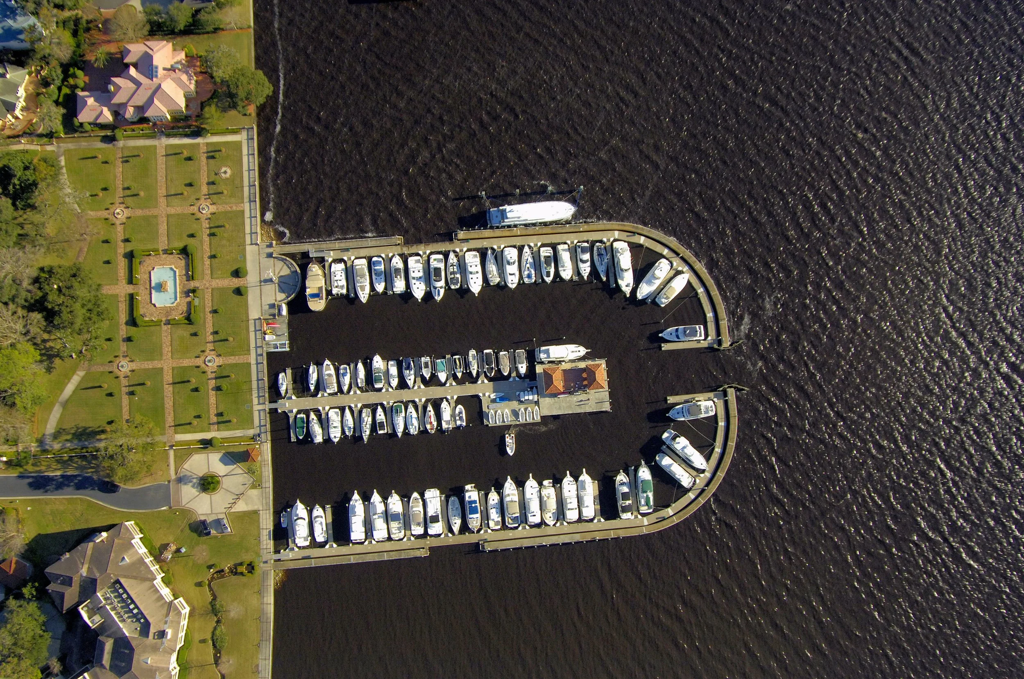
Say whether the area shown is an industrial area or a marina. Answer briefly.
marina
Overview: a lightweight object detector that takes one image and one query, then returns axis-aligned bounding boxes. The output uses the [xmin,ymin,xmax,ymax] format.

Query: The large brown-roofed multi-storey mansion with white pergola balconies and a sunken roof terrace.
[45,521,190,679]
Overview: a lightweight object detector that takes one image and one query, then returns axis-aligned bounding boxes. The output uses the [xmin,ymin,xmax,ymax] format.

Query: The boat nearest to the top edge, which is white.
[483,201,577,229]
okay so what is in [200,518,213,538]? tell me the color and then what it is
black vehicle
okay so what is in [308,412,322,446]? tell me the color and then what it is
white boat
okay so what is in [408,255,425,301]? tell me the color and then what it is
white boat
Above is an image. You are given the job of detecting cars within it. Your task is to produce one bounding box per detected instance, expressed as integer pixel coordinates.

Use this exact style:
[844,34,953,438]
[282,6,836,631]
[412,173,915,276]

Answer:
[220,516,232,535]
[200,518,213,538]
